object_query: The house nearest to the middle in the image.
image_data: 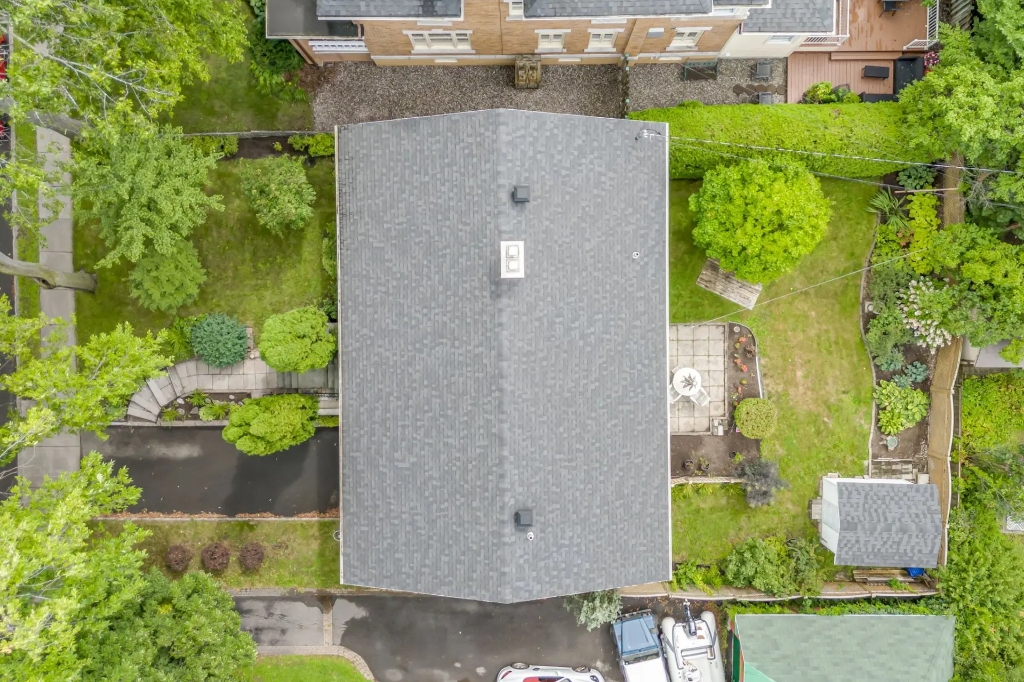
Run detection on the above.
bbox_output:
[335,106,674,602]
